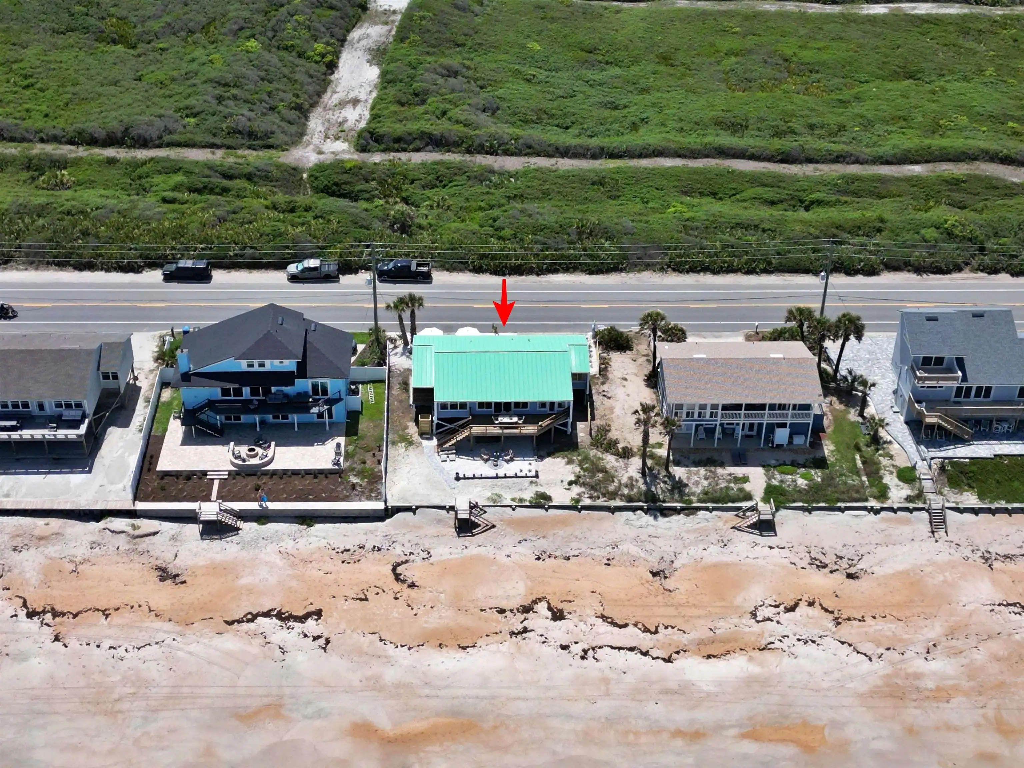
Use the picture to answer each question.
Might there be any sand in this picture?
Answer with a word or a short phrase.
Yes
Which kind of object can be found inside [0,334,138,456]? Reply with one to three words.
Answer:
house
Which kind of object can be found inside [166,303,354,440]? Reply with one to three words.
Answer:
house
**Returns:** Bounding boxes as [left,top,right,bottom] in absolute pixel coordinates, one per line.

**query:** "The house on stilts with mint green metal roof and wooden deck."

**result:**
[409,333,591,454]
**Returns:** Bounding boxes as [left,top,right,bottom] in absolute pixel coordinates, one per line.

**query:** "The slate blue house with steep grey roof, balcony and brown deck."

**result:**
[891,311,1024,441]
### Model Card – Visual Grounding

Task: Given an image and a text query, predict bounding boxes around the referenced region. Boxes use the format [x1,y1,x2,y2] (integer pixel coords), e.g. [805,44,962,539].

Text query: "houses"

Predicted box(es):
[409,333,591,454]
[166,303,354,440]
[649,342,829,447]
[0,334,138,456]
[891,311,1024,441]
